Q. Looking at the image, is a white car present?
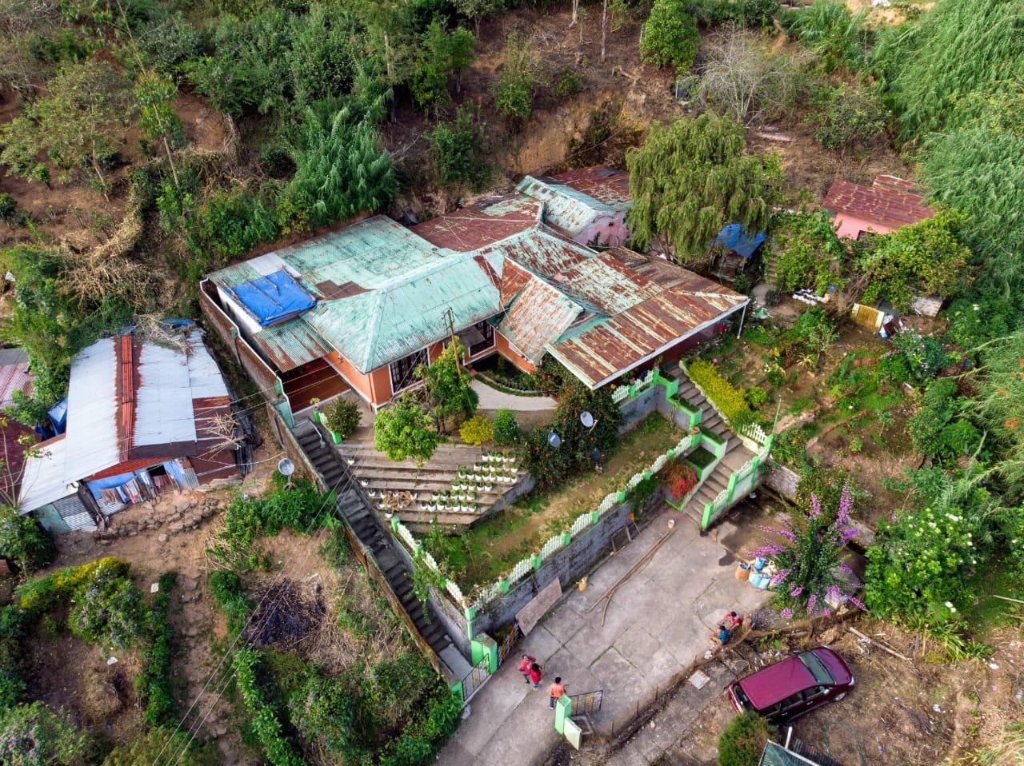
No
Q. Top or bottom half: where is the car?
bottom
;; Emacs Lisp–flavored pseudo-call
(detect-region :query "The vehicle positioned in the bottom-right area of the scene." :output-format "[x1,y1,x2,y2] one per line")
[734,646,862,724]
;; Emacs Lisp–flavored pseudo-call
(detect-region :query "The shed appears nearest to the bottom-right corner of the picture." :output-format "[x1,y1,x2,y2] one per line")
[756,725,840,766]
